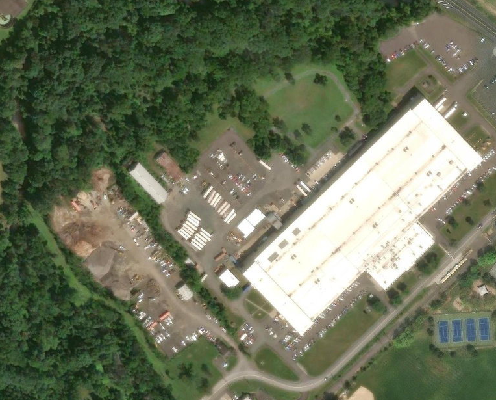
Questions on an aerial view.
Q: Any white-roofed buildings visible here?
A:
Yes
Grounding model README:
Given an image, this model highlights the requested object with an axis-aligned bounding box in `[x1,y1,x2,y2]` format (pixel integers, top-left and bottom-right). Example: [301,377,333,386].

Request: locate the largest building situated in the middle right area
[242,98,482,336]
